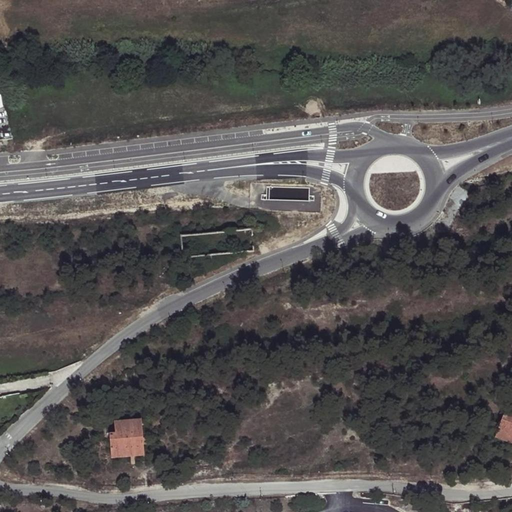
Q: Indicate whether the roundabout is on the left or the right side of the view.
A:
right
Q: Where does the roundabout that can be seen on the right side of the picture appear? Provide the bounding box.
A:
[364,154,426,216]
